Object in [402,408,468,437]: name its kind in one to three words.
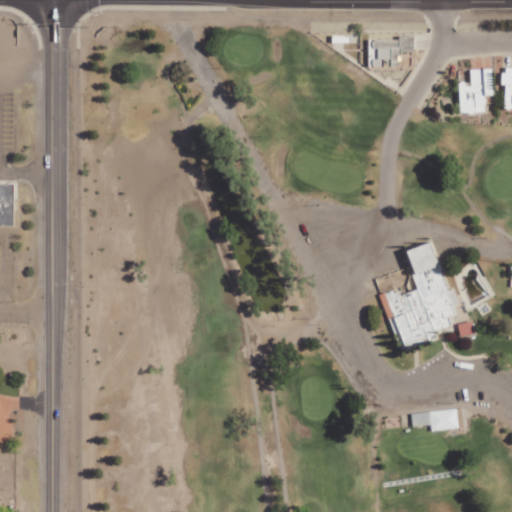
building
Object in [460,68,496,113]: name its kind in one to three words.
house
